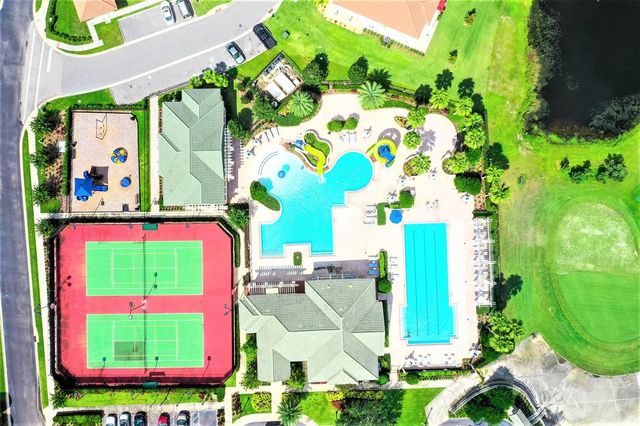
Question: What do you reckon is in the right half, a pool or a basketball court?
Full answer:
What appears in the right half is a pool.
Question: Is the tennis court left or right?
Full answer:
You can find the tennis court on the left side of the picture.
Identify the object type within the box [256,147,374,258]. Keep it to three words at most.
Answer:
swimming pool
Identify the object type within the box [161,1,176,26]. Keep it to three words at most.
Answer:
car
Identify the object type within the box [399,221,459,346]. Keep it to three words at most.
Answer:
swimming pool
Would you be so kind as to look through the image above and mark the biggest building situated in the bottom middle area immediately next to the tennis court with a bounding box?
[239,279,386,387]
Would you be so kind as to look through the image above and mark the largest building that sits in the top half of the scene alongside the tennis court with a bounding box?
[158,89,225,206]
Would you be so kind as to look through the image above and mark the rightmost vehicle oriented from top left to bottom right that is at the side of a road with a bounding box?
[253,22,277,51]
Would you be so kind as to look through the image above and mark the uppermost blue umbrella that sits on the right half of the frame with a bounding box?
[389,209,402,222]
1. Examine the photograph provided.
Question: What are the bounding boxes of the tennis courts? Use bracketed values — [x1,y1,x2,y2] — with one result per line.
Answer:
[58,223,232,384]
